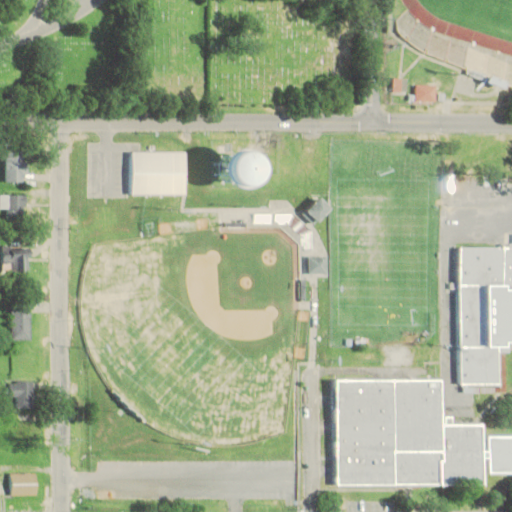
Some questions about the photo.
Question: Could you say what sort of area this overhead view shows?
sports ground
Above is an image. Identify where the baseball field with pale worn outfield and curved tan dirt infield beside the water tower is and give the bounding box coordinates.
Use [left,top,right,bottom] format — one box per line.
[78,229,298,446]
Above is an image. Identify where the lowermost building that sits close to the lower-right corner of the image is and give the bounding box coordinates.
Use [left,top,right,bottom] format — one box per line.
[332,380,512,486]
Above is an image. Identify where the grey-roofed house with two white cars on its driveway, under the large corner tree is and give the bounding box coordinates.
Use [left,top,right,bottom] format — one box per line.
[5,153,28,184]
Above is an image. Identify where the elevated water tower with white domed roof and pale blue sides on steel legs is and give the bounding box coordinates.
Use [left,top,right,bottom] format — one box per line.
[220,150,268,192]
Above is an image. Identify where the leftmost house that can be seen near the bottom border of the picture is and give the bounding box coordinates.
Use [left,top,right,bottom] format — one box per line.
[10,474,38,497]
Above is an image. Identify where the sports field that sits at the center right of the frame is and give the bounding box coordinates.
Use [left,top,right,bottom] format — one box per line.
[331,137,440,346]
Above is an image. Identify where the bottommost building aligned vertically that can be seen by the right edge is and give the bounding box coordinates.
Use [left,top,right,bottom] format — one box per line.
[448,247,512,384]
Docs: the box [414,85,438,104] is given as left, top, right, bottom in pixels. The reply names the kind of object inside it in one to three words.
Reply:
building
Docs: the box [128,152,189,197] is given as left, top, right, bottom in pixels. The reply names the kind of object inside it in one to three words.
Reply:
building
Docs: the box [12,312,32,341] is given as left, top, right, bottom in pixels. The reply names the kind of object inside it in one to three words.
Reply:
house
